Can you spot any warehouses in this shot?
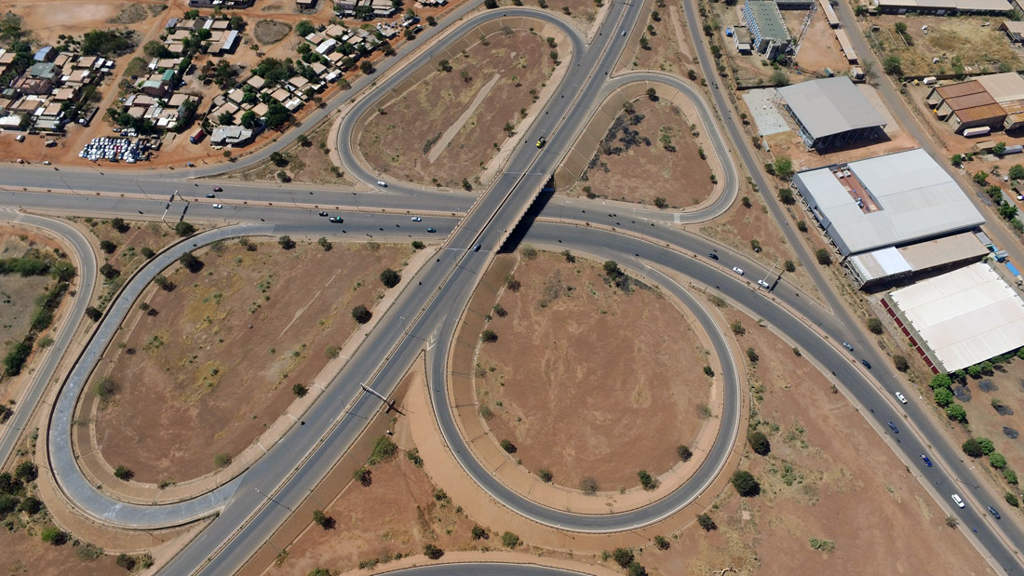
Yes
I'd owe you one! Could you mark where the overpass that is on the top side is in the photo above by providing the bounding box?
[429,170,579,264]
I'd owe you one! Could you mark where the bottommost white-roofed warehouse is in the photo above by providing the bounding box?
[876,261,1024,381]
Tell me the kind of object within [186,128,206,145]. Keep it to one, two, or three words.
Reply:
vehicle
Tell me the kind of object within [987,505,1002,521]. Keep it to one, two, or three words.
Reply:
car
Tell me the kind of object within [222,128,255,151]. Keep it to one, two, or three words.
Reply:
house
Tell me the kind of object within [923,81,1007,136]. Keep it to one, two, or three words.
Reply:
building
